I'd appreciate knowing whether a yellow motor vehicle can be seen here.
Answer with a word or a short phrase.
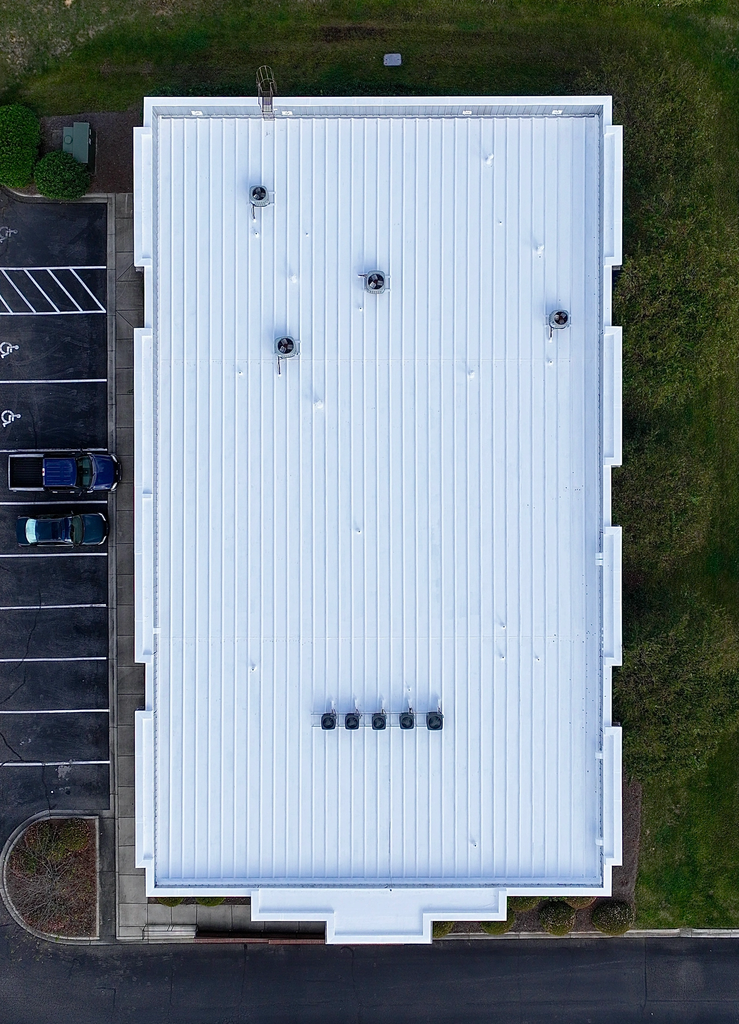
No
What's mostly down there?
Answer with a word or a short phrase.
buildings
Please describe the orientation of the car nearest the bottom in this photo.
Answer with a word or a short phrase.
horizontally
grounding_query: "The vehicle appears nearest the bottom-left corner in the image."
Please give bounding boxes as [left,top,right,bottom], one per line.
[16,510,111,550]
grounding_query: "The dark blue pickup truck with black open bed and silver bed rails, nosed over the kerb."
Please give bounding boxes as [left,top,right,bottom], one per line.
[7,448,124,497]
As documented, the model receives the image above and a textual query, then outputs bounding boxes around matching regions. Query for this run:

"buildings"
[134,96,623,944]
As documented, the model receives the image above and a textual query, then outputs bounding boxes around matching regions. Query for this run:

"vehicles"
[16,510,111,550]
[7,448,124,497]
